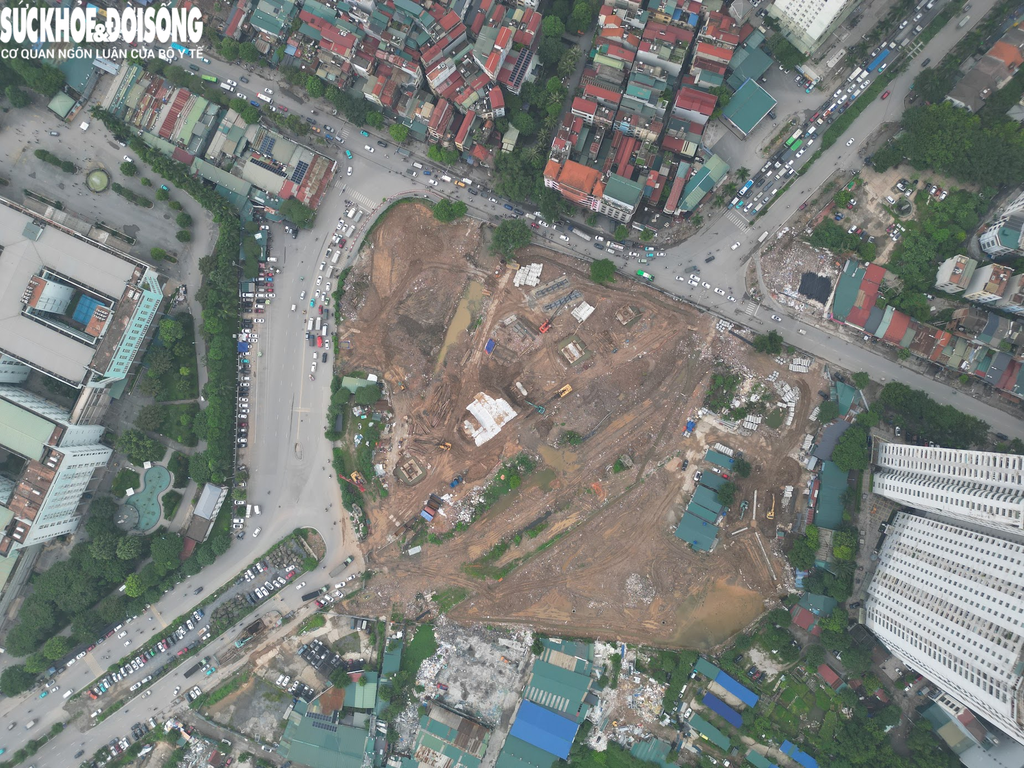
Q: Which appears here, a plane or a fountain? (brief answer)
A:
fountain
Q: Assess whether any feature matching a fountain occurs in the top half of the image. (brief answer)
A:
Yes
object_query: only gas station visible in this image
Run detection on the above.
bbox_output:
[722,76,777,136]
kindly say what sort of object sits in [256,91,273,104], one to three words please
vehicle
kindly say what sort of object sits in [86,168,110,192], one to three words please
fountain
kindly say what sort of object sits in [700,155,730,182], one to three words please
house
